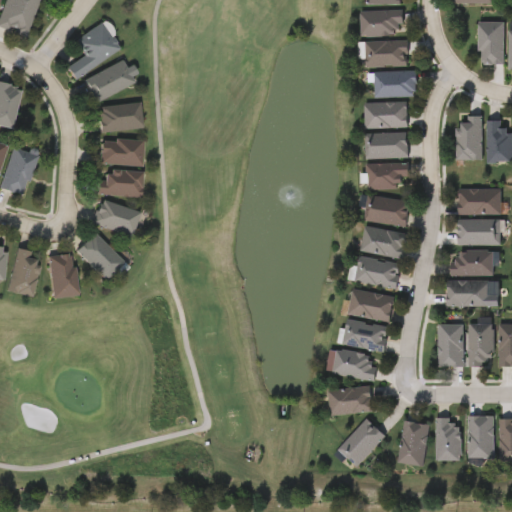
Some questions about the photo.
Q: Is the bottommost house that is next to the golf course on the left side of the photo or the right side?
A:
right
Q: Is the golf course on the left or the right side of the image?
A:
left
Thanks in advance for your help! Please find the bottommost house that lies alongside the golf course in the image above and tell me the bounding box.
[335,419,386,466]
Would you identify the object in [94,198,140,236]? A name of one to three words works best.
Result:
house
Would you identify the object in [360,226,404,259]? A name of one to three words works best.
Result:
house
